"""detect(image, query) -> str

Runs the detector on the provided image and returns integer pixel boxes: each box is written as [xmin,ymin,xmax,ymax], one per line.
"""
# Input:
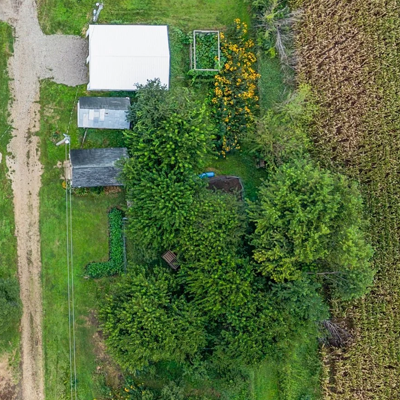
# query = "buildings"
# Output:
[89,25,170,90]
[78,97,130,129]
[72,148,130,187]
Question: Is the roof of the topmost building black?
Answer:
No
